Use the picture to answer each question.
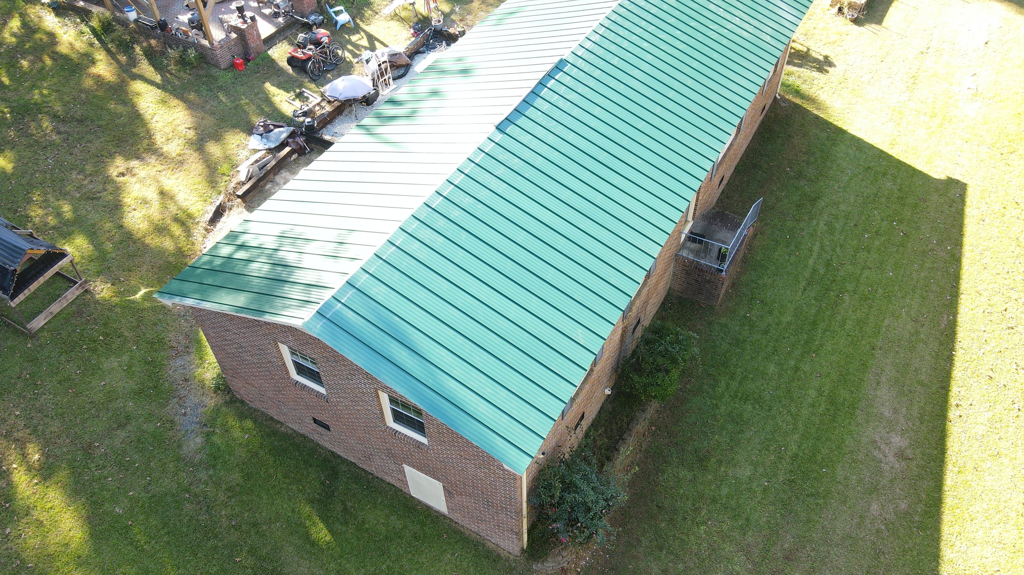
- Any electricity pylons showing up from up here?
No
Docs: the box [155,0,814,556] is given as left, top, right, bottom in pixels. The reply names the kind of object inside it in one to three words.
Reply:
house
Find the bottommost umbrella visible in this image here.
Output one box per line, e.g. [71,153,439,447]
[323,70,372,118]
